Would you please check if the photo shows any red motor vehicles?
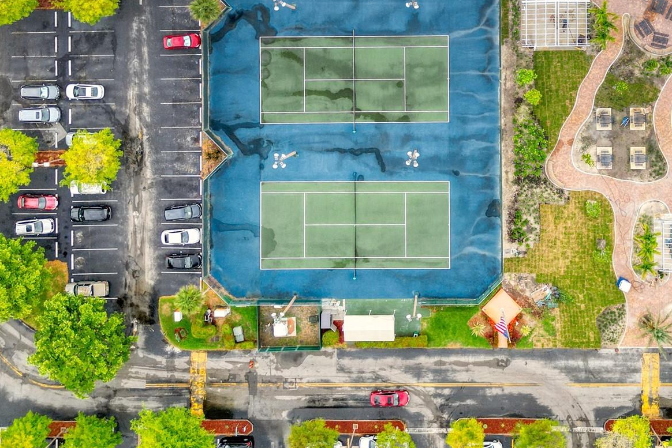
Yes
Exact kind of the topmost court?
tennis court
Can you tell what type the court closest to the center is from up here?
tennis court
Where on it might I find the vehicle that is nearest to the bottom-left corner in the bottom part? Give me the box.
[66,279,111,297]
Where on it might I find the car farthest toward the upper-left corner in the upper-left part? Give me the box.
[21,83,61,100]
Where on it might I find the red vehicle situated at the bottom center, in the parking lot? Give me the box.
[371,388,410,408]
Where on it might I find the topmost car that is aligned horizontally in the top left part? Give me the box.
[163,32,202,50]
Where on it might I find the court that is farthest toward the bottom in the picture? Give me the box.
[261,172,450,282]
